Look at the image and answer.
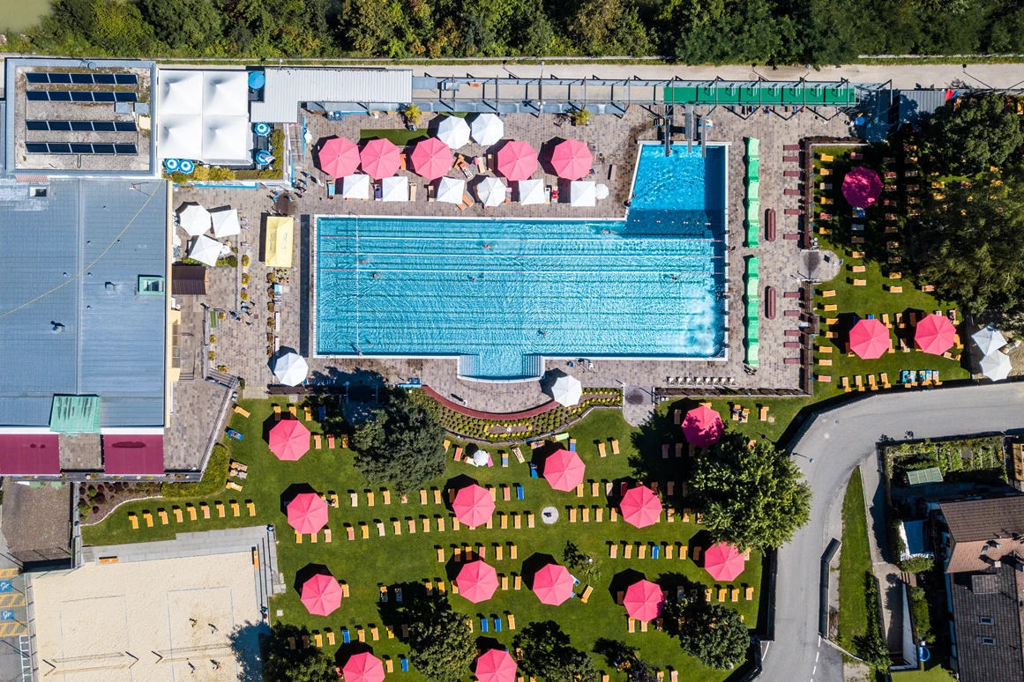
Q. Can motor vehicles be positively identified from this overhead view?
No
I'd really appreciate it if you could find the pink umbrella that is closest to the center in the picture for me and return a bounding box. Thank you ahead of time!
[543,449,585,491]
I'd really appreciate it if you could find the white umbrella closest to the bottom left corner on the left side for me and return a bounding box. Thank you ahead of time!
[275,350,310,385]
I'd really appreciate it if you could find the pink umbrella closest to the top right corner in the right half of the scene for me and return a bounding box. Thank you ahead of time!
[839,167,881,209]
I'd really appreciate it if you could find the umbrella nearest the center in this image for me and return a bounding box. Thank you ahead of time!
[550,375,582,406]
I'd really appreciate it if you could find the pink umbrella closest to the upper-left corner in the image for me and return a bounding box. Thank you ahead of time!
[319,137,361,179]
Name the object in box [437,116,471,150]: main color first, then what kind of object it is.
white umbrella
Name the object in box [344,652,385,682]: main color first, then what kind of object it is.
pink umbrella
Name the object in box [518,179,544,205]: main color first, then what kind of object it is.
white umbrella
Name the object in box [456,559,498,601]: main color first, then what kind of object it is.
pink umbrella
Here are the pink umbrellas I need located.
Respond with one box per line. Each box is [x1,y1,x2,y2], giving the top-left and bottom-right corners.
[532,563,574,605]
[344,652,385,682]
[456,559,498,601]
[477,651,516,682]
[839,167,881,209]
[702,539,743,581]
[453,484,495,526]
[411,138,453,180]
[681,404,723,446]
[847,319,887,359]
[319,137,361,179]
[551,138,593,180]
[623,579,666,621]
[271,420,310,459]
[498,140,537,180]
[543,449,585,491]
[359,138,401,180]
[302,574,343,616]
[288,493,328,533]
[621,486,663,528]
